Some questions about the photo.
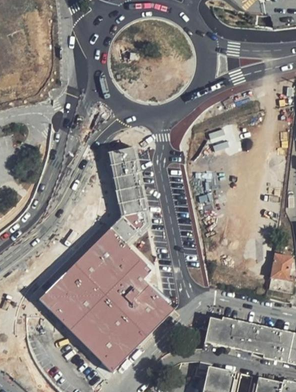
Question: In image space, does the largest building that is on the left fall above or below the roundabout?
below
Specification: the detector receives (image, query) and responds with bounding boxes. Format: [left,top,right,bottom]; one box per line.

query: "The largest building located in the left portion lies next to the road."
[38,230,174,374]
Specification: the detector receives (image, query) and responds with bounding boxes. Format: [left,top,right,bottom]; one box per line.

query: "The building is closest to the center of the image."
[108,147,150,244]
